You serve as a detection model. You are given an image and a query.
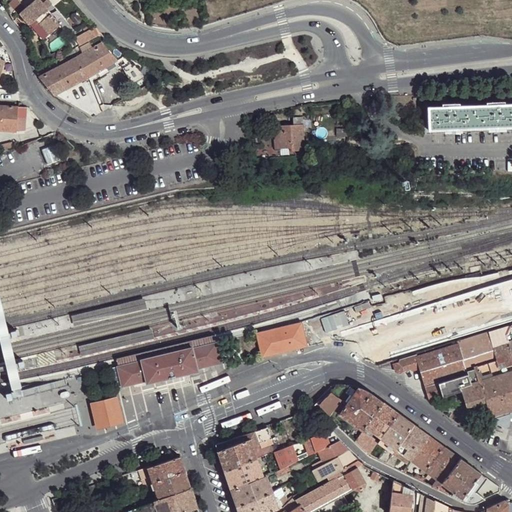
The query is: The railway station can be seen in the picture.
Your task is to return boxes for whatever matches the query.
[14,250,369,386]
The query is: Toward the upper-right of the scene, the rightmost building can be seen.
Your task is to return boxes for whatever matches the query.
[426,102,512,136]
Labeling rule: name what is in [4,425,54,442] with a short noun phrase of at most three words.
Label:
train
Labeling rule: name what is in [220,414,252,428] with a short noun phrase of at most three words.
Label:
vehicle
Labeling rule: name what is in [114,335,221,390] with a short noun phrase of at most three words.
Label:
building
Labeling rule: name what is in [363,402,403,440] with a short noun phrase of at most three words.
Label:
house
